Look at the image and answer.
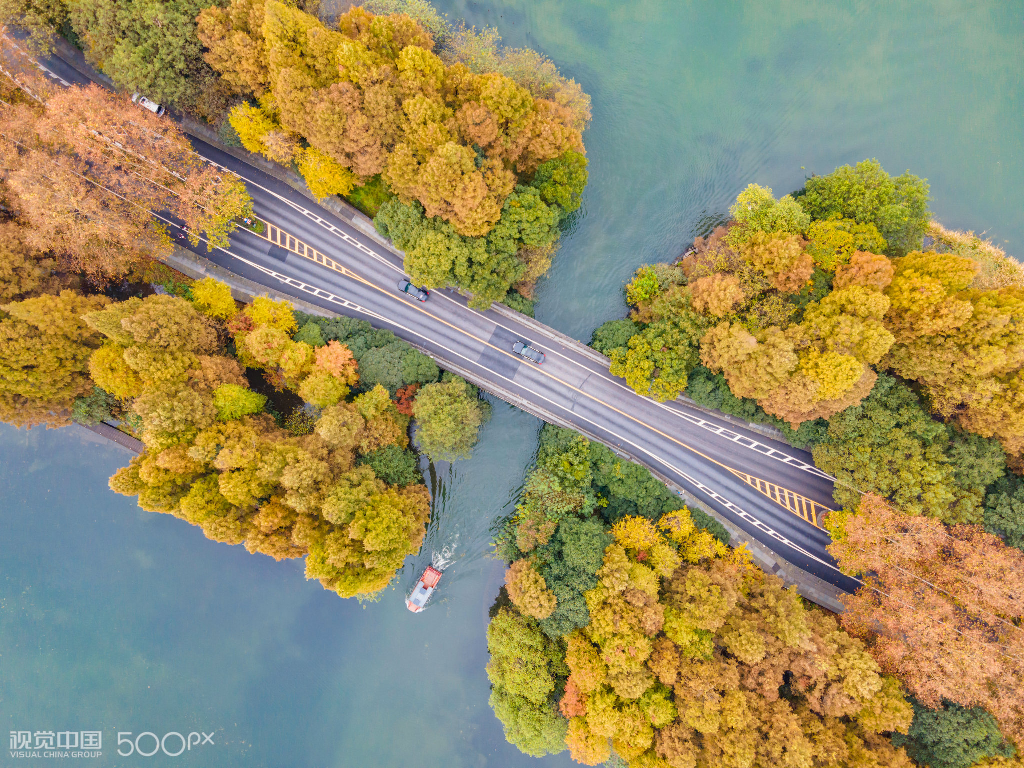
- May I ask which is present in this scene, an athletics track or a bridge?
bridge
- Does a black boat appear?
No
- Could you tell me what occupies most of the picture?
trees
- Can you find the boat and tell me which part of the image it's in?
bottom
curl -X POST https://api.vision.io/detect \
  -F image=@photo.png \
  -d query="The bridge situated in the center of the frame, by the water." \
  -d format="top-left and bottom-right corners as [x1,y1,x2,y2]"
[436,298,619,459]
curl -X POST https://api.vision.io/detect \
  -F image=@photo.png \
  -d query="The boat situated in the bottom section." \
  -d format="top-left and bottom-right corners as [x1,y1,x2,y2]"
[409,567,442,614]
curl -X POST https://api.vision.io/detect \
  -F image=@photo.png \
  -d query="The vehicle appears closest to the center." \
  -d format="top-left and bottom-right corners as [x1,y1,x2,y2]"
[512,340,547,365]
